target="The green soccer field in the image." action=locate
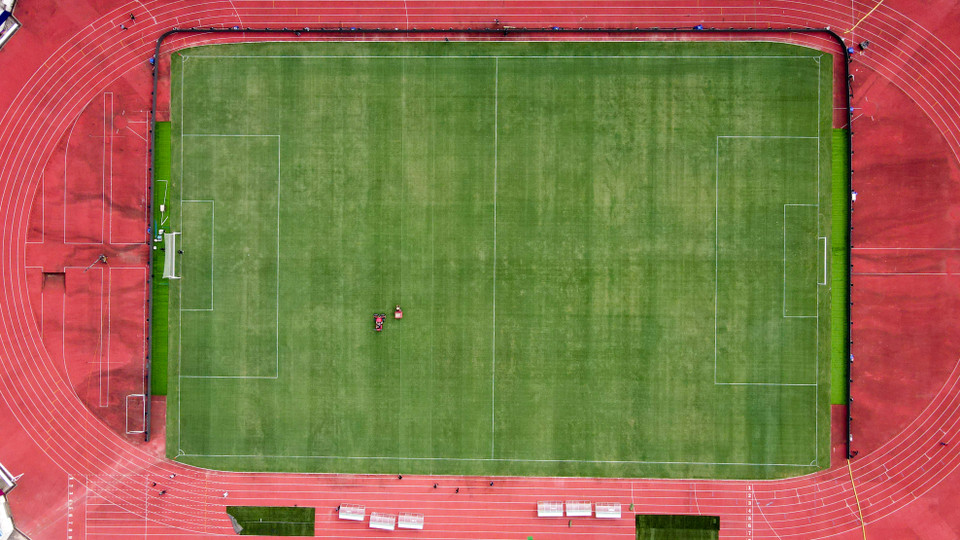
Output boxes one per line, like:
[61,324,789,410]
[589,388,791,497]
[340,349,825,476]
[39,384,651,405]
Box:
[166,42,832,480]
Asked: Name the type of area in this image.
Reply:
sports ground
